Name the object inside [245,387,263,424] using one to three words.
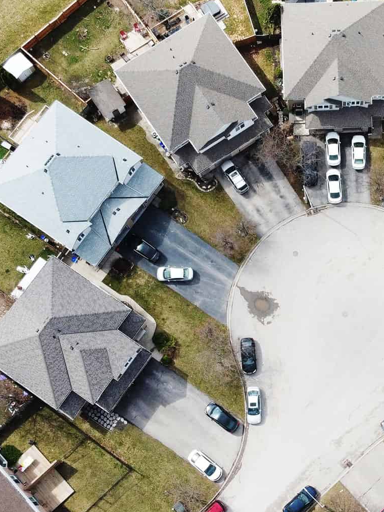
car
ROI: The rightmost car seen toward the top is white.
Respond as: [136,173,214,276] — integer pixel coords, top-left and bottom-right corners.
[350,136,367,170]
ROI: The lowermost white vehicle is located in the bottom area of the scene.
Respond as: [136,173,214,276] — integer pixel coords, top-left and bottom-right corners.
[187,448,223,485]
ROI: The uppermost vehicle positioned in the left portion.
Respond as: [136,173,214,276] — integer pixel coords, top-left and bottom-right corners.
[126,232,162,265]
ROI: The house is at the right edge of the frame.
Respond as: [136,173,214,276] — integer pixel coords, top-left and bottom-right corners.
[281,0,384,135]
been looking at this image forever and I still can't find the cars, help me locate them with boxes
[239,338,258,374]
[158,265,194,282]
[325,170,343,203]
[324,133,341,166]
[220,161,249,195]
[126,232,162,265]
[282,486,317,512]
[205,402,241,435]
[245,387,263,424]
[204,500,226,512]
[350,136,367,170]
[187,448,223,485]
